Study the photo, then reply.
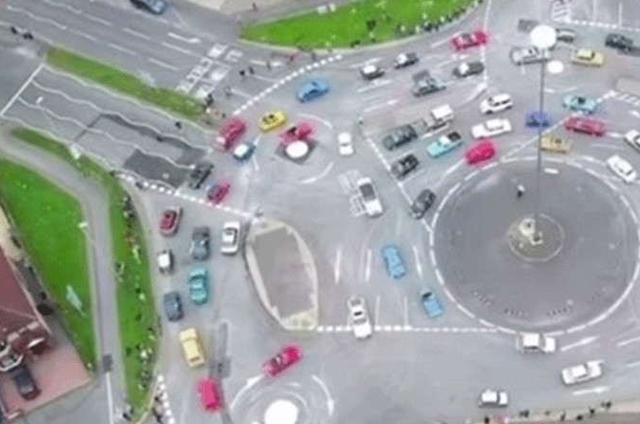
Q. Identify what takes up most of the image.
paved ground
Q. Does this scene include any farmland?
No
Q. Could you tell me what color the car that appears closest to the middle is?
white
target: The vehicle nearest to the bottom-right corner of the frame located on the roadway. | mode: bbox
[559,361,605,386]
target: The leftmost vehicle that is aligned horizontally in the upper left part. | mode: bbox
[130,0,166,15]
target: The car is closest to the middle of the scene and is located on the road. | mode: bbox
[356,179,384,215]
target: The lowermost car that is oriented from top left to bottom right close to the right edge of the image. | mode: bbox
[605,153,639,185]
